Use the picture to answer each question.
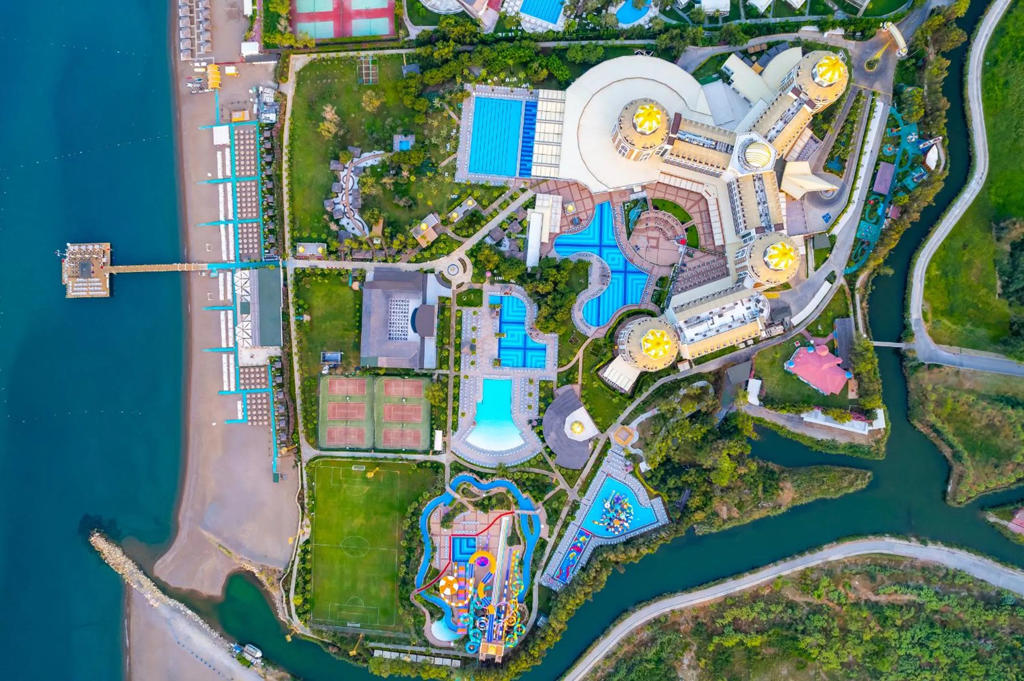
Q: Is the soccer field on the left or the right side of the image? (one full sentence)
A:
You can find the soccer field on the left side of the picture.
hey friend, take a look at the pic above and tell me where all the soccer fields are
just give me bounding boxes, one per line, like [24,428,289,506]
[310,464,406,629]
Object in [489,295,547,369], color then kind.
blue swimming pool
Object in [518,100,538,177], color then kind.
blue swimming pool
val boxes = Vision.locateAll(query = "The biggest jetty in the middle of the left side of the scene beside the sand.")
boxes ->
[62,242,208,298]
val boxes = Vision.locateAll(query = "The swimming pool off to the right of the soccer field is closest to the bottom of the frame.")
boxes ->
[431,617,464,642]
